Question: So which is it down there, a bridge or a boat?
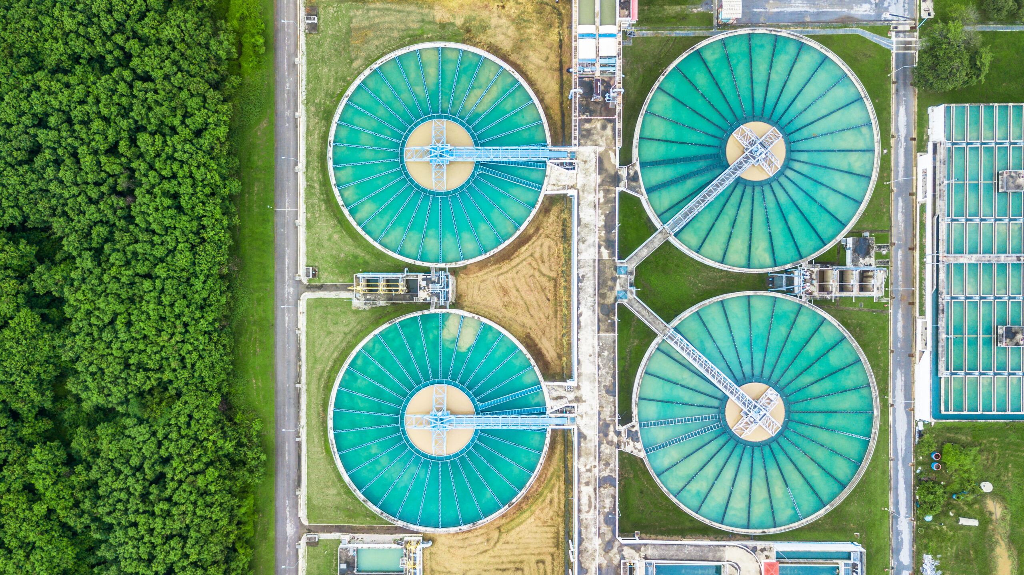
bridge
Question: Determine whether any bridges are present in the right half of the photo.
Yes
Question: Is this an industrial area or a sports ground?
industrial area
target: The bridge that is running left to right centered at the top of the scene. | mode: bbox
[403,117,568,190]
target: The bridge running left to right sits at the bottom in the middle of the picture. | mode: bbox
[403,386,568,459]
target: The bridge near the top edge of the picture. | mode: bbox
[889,22,928,54]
